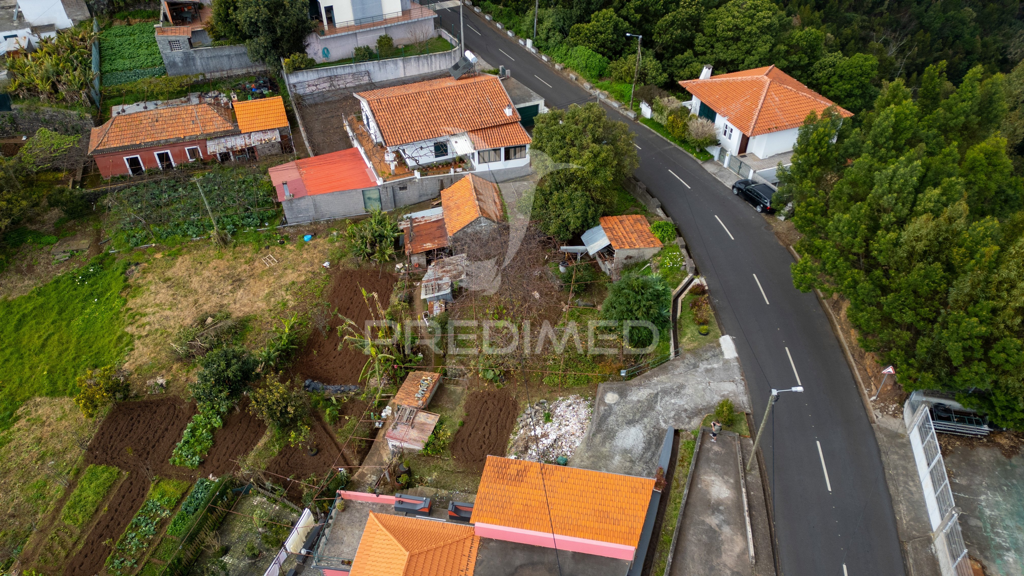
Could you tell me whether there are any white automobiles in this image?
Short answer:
No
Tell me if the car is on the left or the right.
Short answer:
right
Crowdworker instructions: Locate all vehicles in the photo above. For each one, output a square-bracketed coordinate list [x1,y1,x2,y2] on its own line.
[730,181,782,210]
